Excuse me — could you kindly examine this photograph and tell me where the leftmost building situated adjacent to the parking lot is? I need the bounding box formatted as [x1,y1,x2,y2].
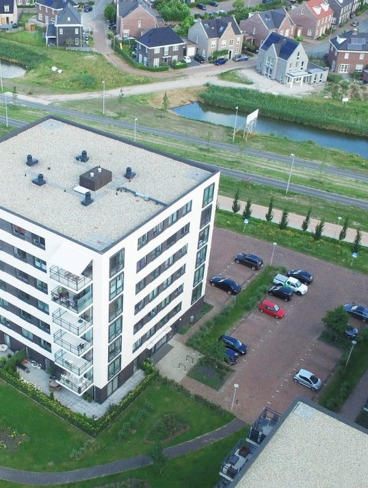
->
[0,116,220,402]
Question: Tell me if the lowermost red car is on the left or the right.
right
